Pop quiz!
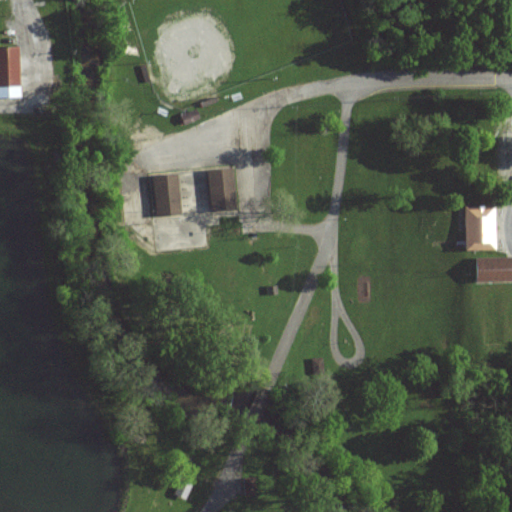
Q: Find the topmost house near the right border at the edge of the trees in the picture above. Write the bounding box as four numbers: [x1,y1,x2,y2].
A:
[465,206,498,252]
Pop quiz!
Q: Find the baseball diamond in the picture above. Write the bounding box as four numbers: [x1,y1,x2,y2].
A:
[130,0,363,106]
